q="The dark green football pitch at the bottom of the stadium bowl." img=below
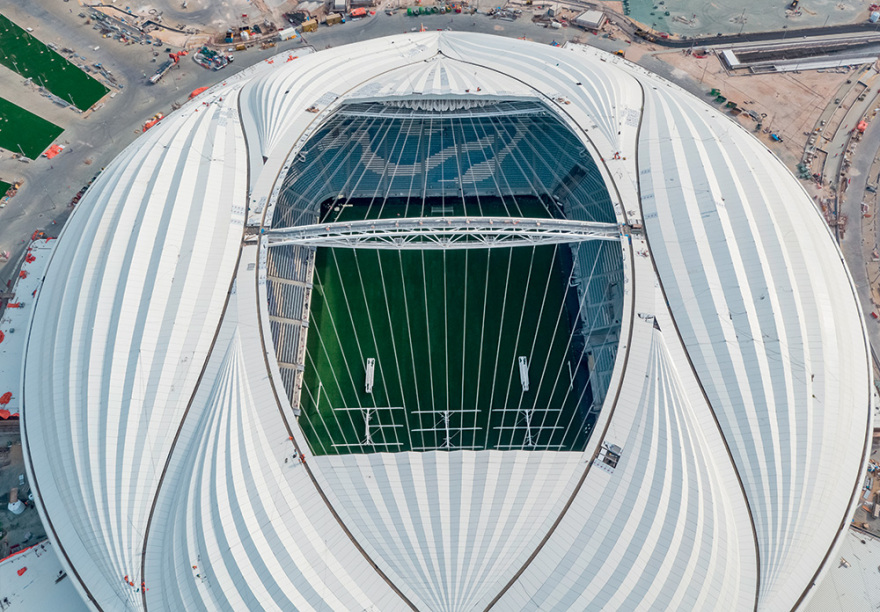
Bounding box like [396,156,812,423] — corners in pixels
[302,204,580,456]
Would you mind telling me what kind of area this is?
sports ground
